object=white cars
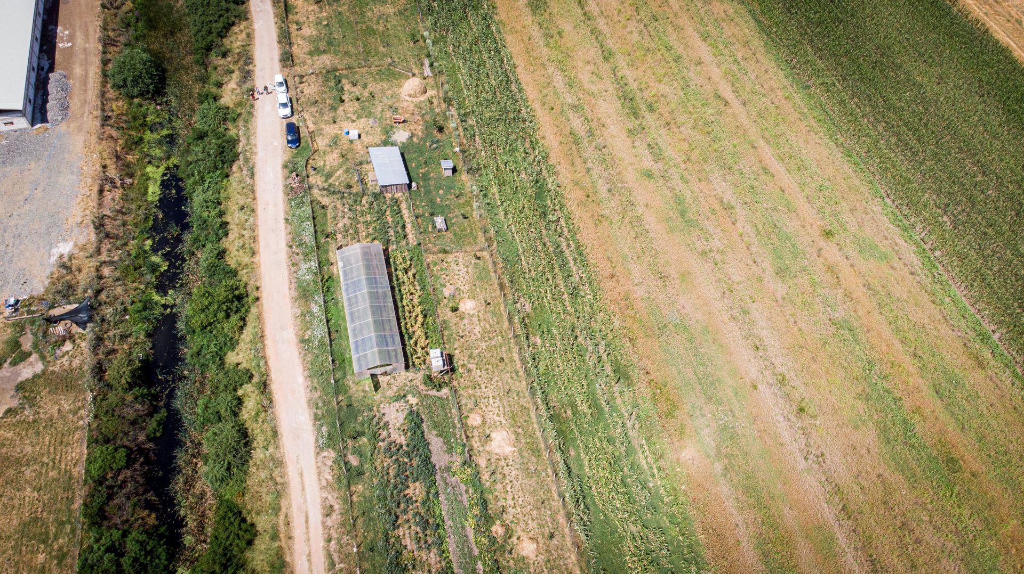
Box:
[277,92,292,117]
[269,70,289,93]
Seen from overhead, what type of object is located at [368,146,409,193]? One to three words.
shed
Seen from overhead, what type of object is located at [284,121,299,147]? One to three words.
car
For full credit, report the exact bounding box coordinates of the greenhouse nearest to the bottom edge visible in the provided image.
[335,242,405,390]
